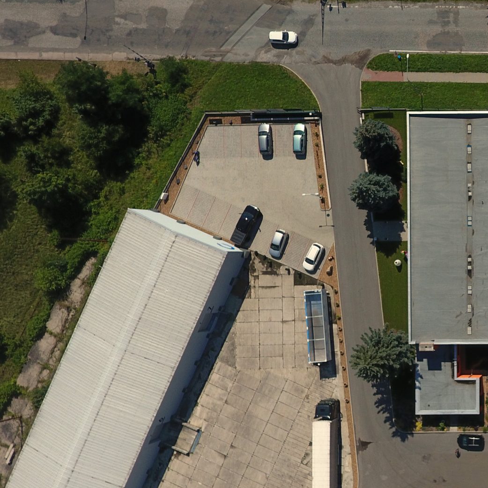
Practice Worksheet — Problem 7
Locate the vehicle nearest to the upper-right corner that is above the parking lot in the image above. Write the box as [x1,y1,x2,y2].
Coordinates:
[269,30,297,46]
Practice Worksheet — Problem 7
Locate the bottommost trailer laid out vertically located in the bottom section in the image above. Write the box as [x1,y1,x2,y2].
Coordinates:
[312,419,338,488]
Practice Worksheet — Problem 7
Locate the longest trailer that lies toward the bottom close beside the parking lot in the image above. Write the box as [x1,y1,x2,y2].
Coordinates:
[304,288,332,363]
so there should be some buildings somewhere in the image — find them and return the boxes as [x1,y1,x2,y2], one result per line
[406,111,488,351]
[5,208,246,488]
